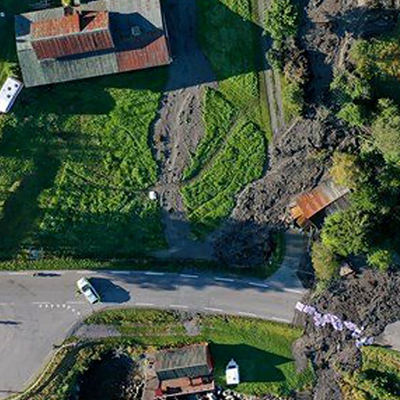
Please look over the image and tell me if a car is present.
Yes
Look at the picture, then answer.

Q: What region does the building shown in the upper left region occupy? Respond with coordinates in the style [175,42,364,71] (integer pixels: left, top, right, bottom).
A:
[13,0,172,87]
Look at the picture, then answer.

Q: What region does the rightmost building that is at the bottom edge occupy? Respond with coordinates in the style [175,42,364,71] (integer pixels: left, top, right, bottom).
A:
[150,335,216,400]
